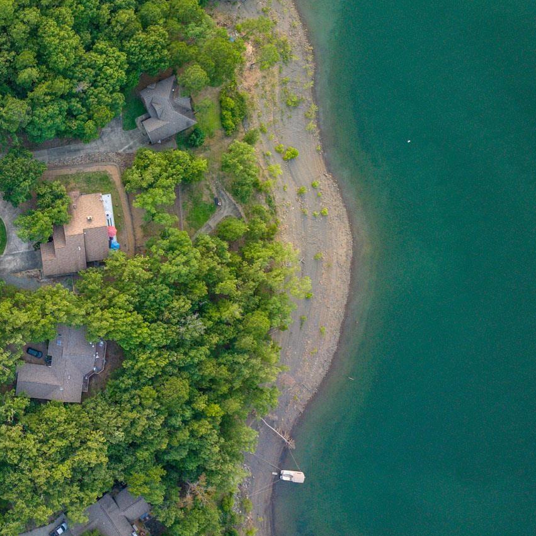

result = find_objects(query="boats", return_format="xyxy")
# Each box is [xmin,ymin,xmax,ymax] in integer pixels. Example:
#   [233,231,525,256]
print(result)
[280,471,306,484]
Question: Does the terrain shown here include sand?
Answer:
Yes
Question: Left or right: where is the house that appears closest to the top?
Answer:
left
